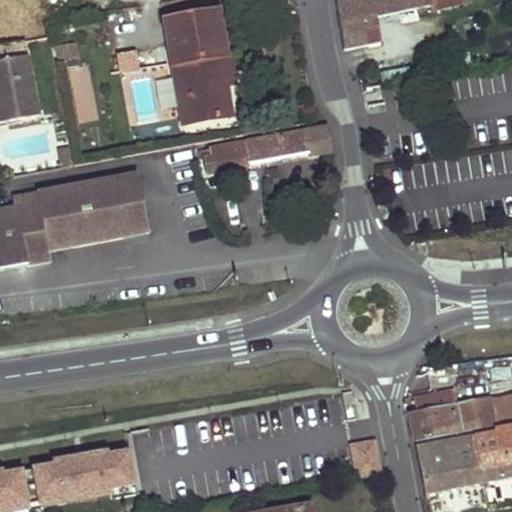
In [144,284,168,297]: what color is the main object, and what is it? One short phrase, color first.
white vehicle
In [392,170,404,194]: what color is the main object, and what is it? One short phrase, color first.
white vehicle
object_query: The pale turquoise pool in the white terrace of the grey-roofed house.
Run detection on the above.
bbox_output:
[0,128,52,160]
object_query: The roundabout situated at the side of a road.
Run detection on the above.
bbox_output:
[336,275,410,349]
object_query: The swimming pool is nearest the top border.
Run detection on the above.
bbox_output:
[130,77,160,122]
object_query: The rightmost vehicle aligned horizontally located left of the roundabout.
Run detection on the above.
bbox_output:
[248,339,272,351]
